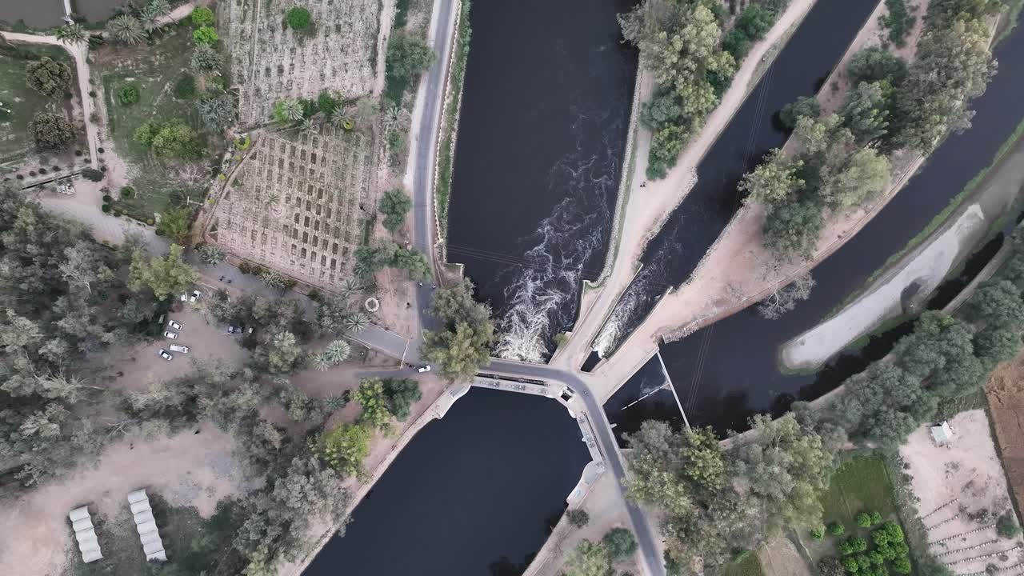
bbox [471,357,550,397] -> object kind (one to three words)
dam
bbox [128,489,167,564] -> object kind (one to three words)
shed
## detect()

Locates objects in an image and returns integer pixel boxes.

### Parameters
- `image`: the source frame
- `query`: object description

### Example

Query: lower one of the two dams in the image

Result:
[576,406,621,462]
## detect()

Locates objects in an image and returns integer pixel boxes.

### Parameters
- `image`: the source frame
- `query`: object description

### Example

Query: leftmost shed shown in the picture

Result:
[70,505,103,563]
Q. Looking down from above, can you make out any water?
Yes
